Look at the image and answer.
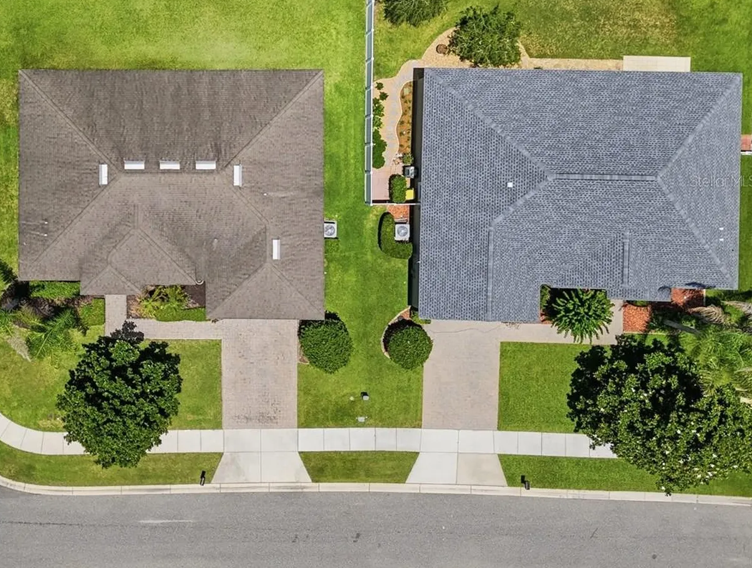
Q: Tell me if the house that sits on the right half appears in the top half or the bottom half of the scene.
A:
top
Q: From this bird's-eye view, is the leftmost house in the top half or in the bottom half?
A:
top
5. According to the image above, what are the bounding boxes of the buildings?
[18,68,325,321]
[413,68,743,322]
